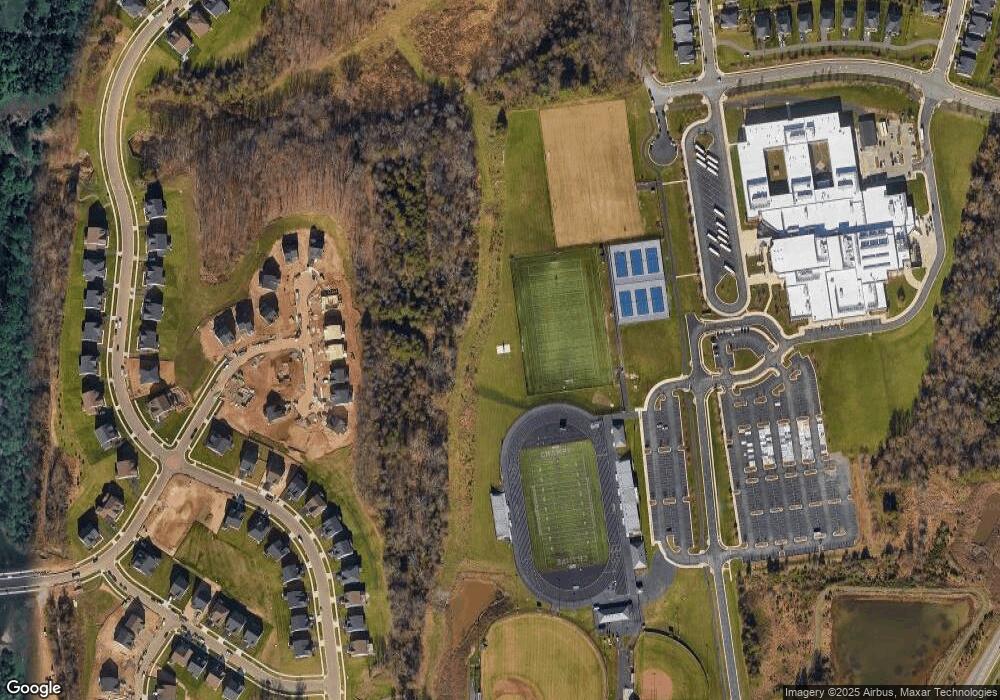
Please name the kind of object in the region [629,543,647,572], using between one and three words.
building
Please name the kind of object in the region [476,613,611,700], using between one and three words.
baseball field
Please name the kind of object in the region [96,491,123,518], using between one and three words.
house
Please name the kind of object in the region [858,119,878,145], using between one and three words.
shed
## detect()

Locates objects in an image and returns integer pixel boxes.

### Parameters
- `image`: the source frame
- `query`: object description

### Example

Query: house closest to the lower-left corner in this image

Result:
[99,672,119,690]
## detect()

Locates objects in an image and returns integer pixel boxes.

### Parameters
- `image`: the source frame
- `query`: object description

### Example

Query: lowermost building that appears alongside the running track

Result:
[596,603,631,624]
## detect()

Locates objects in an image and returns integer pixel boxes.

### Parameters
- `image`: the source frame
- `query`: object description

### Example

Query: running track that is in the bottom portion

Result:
[505,404,627,609]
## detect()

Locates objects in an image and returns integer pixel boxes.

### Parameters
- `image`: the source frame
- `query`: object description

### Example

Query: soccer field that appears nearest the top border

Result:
[512,247,614,394]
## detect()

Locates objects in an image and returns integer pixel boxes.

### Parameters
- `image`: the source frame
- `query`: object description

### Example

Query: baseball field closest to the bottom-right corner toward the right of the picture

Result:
[634,630,708,700]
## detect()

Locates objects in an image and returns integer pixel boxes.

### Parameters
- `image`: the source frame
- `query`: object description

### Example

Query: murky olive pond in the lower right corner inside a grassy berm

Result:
[831,597,969,700]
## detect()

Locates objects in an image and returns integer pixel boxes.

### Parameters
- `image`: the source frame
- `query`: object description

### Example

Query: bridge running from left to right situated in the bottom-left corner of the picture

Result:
[0,569,49,594]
